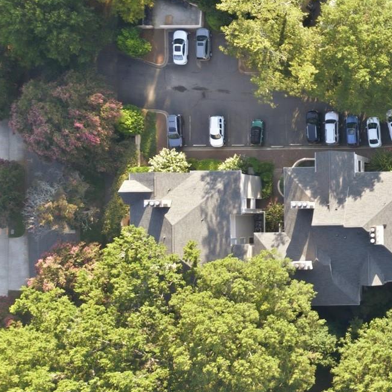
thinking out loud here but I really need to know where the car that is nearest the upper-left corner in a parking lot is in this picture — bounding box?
[171,30,189,65]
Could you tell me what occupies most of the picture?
trees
